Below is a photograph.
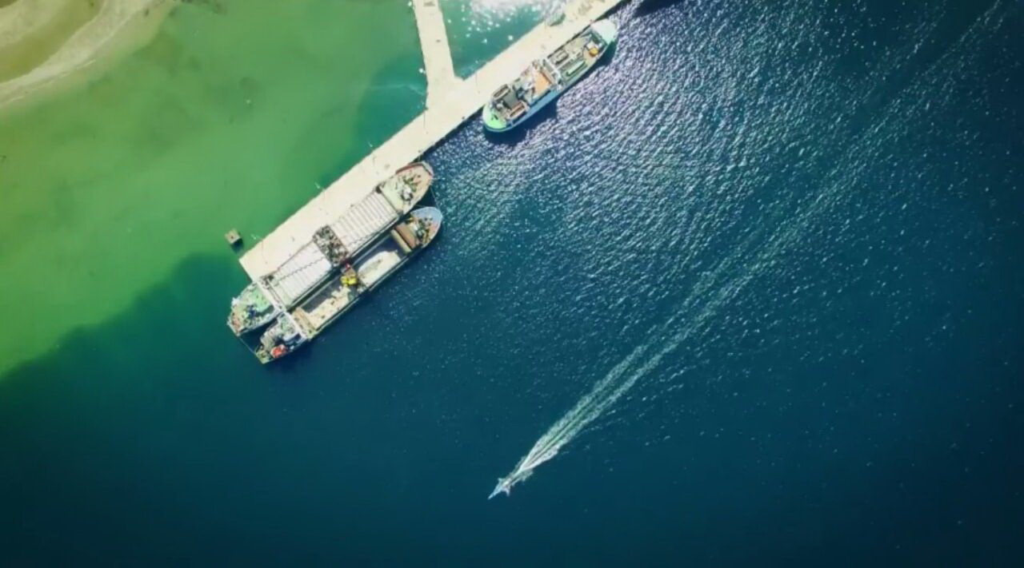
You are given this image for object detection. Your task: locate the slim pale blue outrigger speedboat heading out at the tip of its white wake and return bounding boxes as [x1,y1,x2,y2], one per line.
[487,479,512,501]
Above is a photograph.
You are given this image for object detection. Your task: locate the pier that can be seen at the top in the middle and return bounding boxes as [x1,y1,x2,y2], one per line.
[240,0,620,281]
